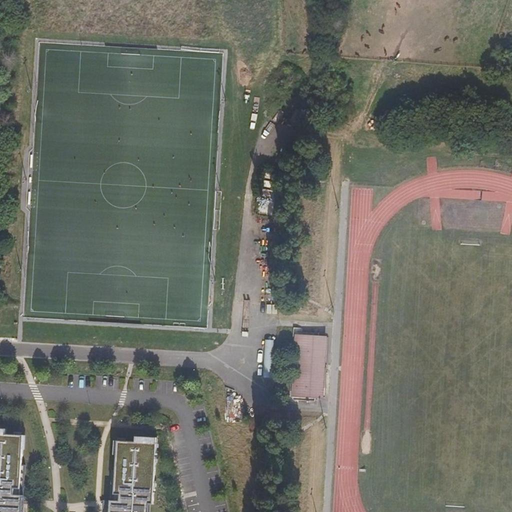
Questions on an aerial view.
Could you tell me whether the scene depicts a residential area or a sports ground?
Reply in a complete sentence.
This looks like a sports ground.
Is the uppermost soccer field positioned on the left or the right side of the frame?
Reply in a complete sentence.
It is on the left.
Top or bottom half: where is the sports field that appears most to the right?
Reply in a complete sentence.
It is in the bottom half that the sports field that appears most to the right appears.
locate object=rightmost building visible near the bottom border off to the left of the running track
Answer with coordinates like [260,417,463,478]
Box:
[104,438,158,512]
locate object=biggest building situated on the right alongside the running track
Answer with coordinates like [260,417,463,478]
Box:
[292,328,328,400]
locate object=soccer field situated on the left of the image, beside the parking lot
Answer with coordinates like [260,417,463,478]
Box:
[24,42,221,328]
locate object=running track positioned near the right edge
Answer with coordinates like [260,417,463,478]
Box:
[332,157,512,512]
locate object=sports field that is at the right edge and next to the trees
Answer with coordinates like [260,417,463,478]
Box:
[357,188,512,512]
